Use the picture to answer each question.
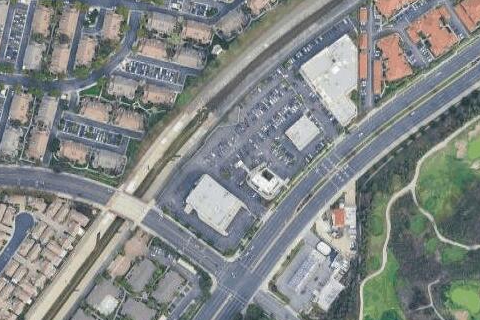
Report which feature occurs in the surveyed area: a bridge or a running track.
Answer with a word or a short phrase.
bridge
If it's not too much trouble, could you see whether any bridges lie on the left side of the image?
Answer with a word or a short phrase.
Yes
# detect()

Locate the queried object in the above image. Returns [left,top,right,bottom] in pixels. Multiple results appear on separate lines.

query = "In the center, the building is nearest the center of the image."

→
[252,168,282,198]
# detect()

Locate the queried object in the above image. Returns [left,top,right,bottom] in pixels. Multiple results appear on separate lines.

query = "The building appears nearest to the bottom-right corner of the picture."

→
[317,282,348,314]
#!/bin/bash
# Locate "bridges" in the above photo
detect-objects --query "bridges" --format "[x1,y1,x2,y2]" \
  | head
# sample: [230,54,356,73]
[106,186,154,226]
